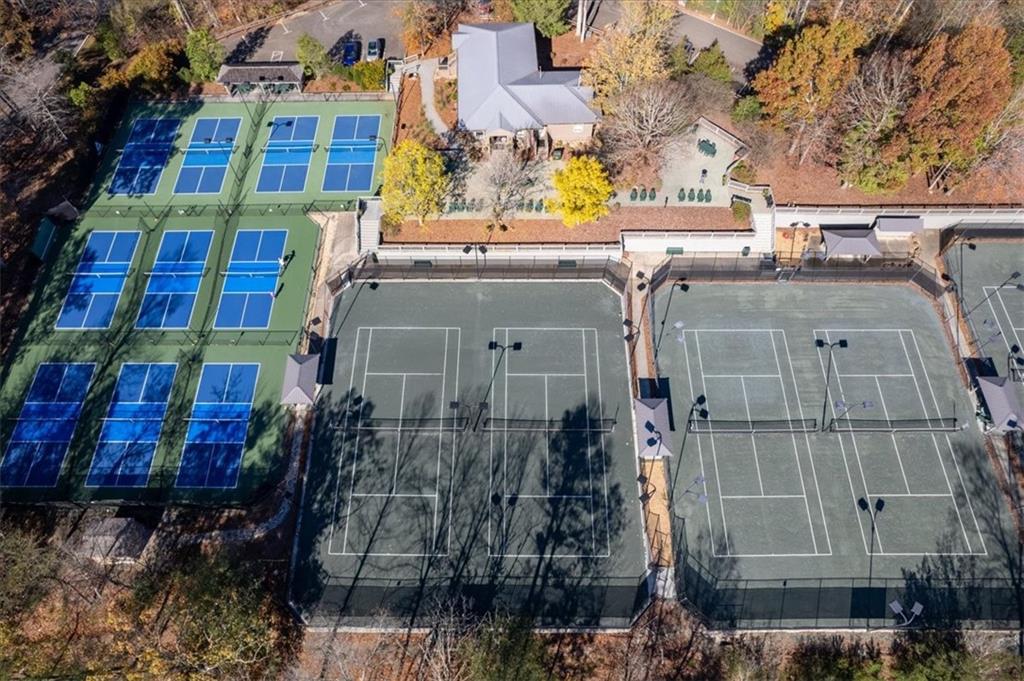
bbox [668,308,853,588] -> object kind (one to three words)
tennis court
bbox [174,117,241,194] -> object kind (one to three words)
sports court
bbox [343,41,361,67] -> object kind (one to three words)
car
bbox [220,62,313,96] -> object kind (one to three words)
building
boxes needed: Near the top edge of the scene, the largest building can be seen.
[449,25,599,152]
